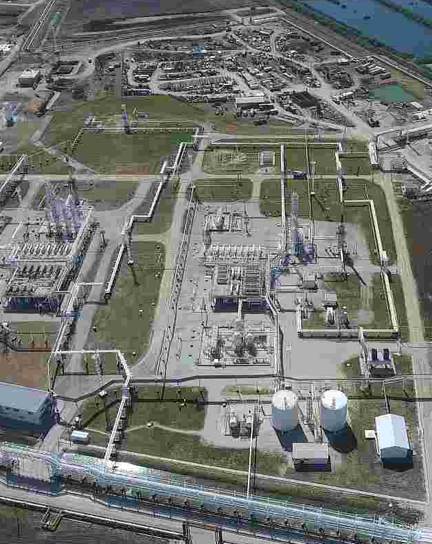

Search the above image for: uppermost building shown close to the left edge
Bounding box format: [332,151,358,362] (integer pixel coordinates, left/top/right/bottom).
[15,67,46,85]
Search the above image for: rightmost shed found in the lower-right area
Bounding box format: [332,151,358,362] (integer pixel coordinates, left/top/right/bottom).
[375,412,415,464]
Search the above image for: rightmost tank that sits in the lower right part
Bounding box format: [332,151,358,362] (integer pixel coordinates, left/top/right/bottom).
[319,387,349,434]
